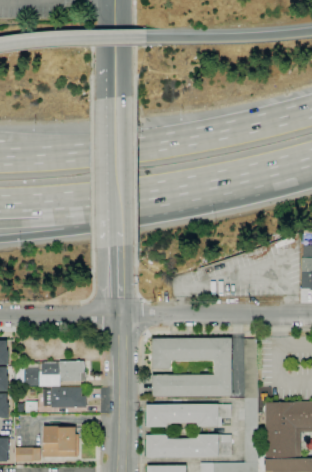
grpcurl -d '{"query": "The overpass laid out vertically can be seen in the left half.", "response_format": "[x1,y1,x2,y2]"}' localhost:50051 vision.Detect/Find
[90,96,138,245]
